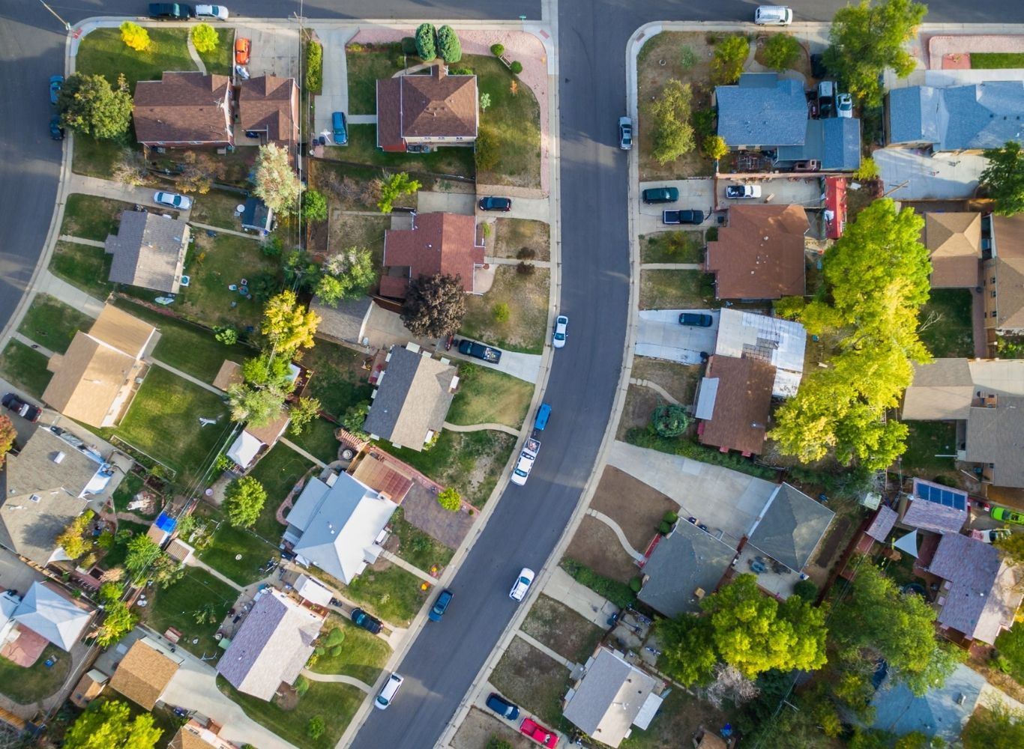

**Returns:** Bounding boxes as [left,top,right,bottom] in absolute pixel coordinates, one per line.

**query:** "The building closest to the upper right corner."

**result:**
[882,78,1024,156]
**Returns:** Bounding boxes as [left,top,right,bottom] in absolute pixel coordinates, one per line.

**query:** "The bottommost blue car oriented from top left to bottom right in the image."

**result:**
[483,691,522,722]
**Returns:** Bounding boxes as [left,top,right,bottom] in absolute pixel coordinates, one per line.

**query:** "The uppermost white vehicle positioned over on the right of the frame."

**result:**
[754,3,793,25]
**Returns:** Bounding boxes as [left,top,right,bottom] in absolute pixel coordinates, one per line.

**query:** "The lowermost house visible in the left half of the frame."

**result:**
[167,718,242,749]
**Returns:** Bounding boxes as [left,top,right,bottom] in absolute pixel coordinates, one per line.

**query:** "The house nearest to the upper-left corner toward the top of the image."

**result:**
[130,71,239,147]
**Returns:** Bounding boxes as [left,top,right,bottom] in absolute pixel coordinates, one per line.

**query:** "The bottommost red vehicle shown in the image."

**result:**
[516,715,562,749]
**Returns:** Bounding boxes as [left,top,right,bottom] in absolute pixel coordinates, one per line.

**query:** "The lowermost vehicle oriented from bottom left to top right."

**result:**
[373,669,404,711]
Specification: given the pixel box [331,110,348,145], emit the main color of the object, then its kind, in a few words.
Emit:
blue car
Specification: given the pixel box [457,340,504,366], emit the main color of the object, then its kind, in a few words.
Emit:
black truck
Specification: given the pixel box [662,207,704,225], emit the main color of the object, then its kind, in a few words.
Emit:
black vehicle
